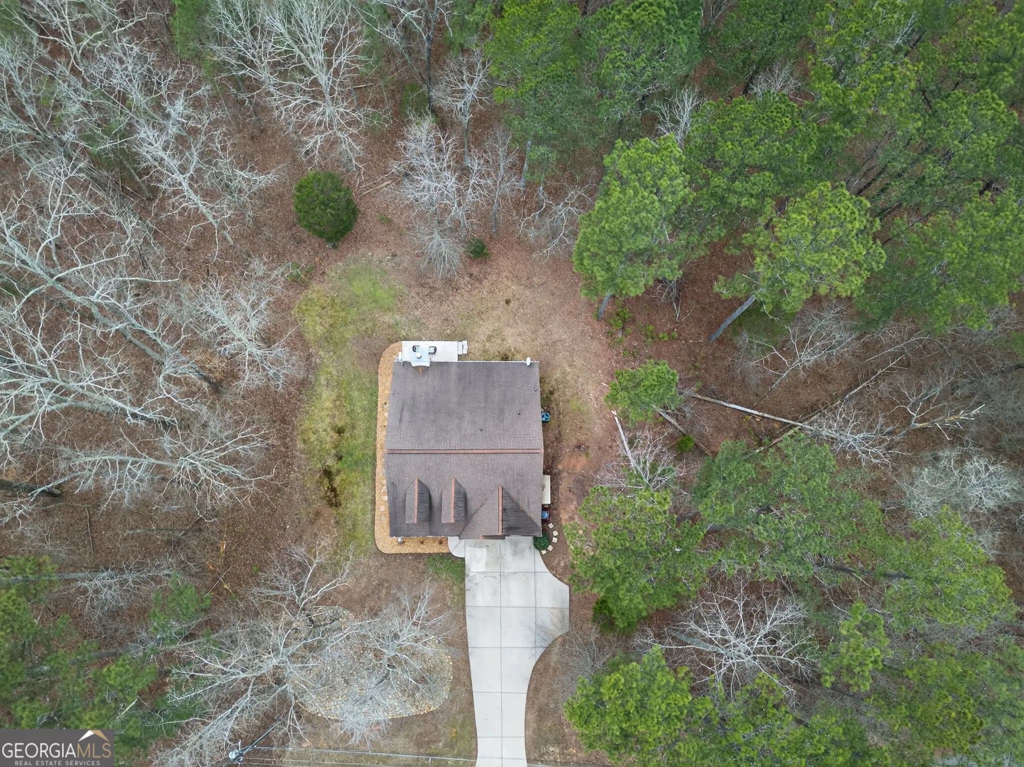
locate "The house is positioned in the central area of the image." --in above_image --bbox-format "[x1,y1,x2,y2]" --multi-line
[386,351,543,540]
